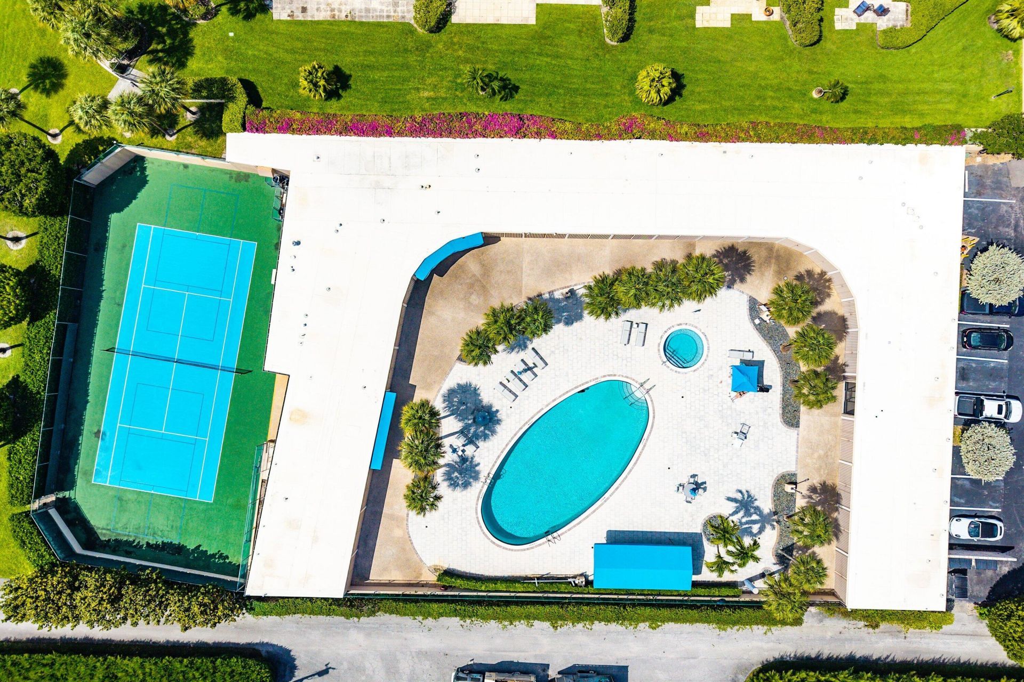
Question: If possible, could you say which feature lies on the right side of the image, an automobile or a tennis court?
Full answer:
There is an automobile on the right side of the image.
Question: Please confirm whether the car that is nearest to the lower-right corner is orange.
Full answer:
No, the color of the car that is nearest to the lower-right corner is white.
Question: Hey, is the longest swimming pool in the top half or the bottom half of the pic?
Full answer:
The bottom half of the photo is where the longest swimming pool is.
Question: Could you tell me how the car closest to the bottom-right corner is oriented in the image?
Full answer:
From this overhead view, the car closest to the bottom-right corner appears to run from side to side.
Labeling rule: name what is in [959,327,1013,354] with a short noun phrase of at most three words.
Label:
car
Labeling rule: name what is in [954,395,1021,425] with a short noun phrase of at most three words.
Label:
truck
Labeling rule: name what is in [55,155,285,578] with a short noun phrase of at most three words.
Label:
tennis court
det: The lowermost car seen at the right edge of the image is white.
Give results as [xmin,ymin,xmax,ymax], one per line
[949,516,1003,544]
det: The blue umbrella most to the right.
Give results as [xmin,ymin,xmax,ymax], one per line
[730,365,757,392]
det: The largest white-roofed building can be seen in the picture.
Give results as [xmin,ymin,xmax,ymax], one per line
[226,132,966,611]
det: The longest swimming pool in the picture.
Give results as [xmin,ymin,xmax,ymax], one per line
[473,372,657,553]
